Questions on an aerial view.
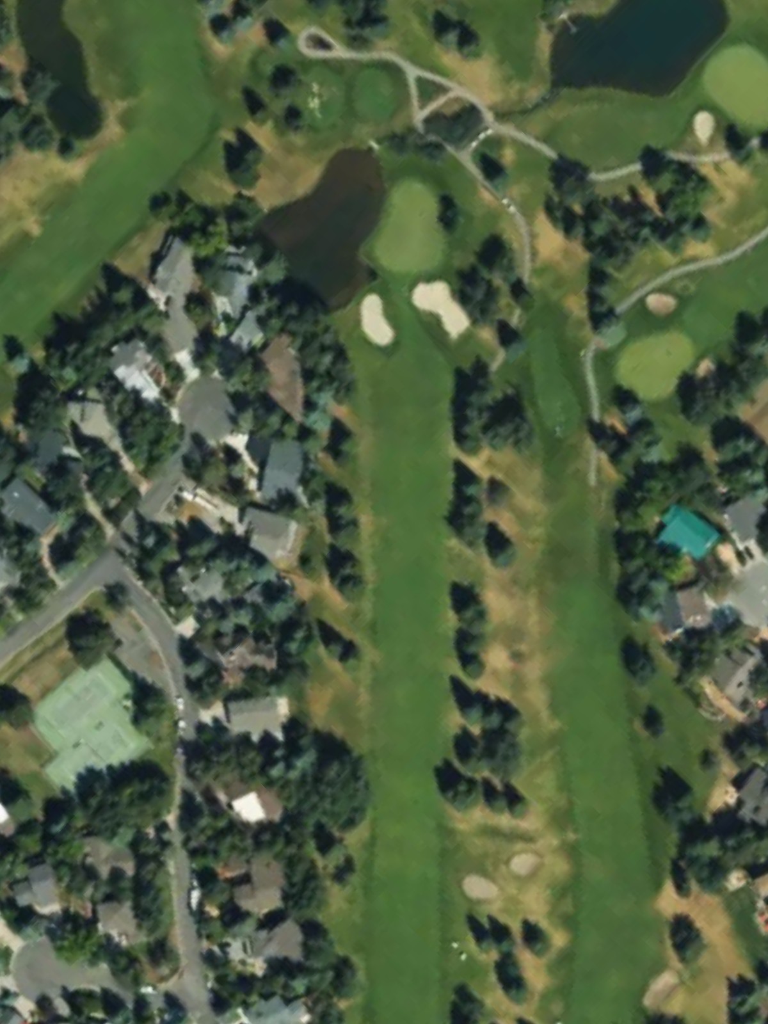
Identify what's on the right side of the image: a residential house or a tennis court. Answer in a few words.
residential house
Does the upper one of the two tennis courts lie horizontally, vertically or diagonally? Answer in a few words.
diagonally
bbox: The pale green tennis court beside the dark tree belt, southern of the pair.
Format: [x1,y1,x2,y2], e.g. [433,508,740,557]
[70,723,132,774]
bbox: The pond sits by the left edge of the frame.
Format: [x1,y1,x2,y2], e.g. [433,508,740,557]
[17,0,102,139]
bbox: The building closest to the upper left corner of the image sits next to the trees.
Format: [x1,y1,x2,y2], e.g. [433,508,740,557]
[150,233,195,301]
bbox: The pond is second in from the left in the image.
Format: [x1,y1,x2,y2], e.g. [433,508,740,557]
[259,148,384,313]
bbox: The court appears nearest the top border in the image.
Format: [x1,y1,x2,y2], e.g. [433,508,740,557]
[50,673,111,731]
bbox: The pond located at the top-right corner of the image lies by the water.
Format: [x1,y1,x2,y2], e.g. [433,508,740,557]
[551,0,728,97]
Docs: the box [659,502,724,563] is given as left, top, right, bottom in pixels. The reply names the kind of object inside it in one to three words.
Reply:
house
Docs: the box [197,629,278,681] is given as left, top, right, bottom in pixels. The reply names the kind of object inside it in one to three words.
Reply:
house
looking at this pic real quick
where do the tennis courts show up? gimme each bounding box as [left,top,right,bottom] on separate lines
[70,723,132,774]
[50,673,111,731]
